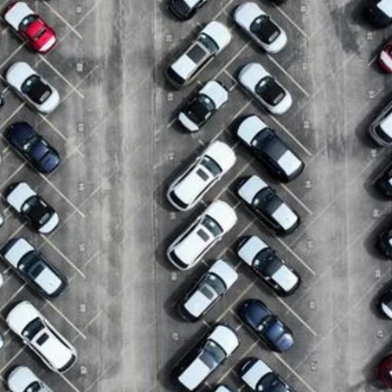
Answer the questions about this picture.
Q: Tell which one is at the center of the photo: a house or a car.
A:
car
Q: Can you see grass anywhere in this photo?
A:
No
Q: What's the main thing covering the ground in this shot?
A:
paved ground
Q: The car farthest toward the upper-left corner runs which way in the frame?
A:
at an angle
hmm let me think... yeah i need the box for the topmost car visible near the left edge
[5,2,54,52]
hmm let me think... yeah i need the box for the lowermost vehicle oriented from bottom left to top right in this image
[171,323,237,392]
